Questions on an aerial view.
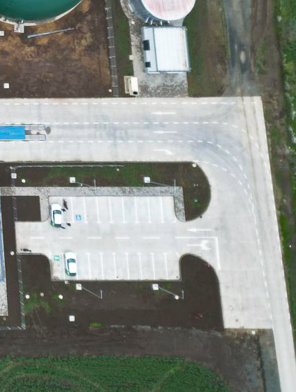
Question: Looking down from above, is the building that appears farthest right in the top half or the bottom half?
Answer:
top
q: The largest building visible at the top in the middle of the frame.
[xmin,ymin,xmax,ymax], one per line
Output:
[144,26,190,72]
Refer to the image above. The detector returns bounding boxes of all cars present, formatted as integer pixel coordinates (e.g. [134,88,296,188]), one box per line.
[63,253,76,277]
[50,204,67,228]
